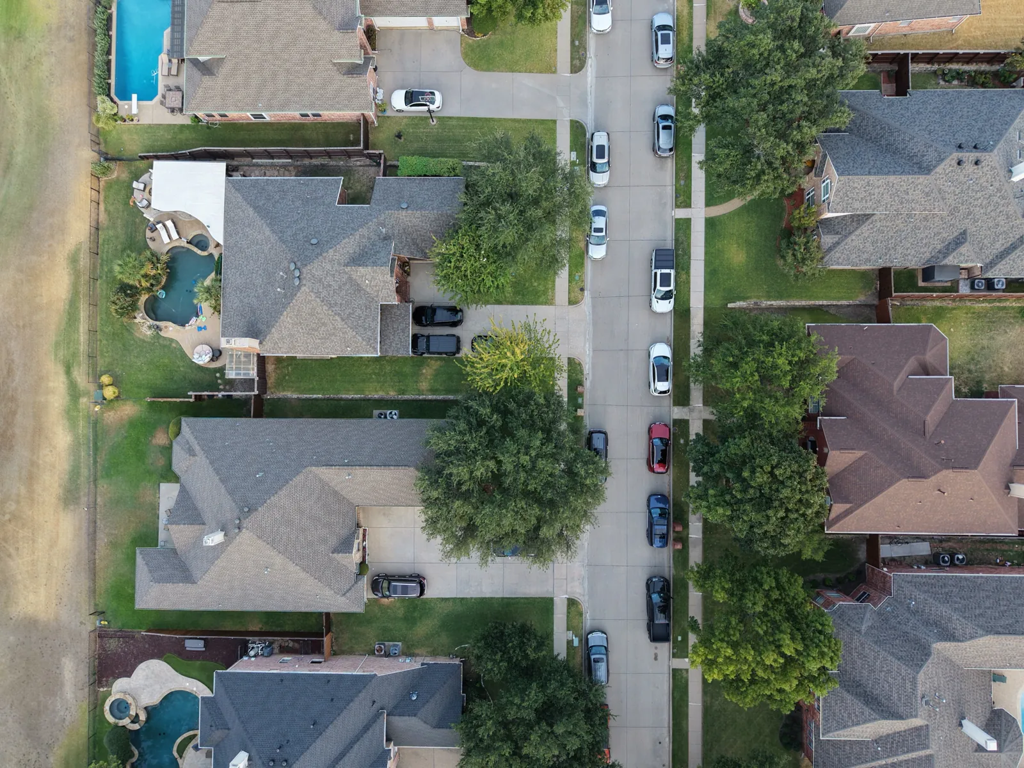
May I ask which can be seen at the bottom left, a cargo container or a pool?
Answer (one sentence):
There is a pool at the bottom left.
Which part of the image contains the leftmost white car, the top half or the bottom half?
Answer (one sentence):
The leftmost white car sits in the top half of the picture.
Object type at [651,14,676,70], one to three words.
car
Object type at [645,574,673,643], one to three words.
truck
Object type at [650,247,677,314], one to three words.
truck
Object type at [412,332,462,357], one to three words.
car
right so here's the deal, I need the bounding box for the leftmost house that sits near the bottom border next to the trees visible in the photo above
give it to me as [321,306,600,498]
[198,654,466,768]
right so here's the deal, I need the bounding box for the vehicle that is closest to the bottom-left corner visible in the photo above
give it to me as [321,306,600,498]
[371,572,427,600]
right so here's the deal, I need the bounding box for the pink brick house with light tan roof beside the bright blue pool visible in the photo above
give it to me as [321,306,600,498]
[184,0,470,125]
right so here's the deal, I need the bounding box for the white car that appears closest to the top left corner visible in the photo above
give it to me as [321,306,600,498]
[391,87,443,115]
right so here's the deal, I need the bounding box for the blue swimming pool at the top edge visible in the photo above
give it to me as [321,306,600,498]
[111,0,176,104]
